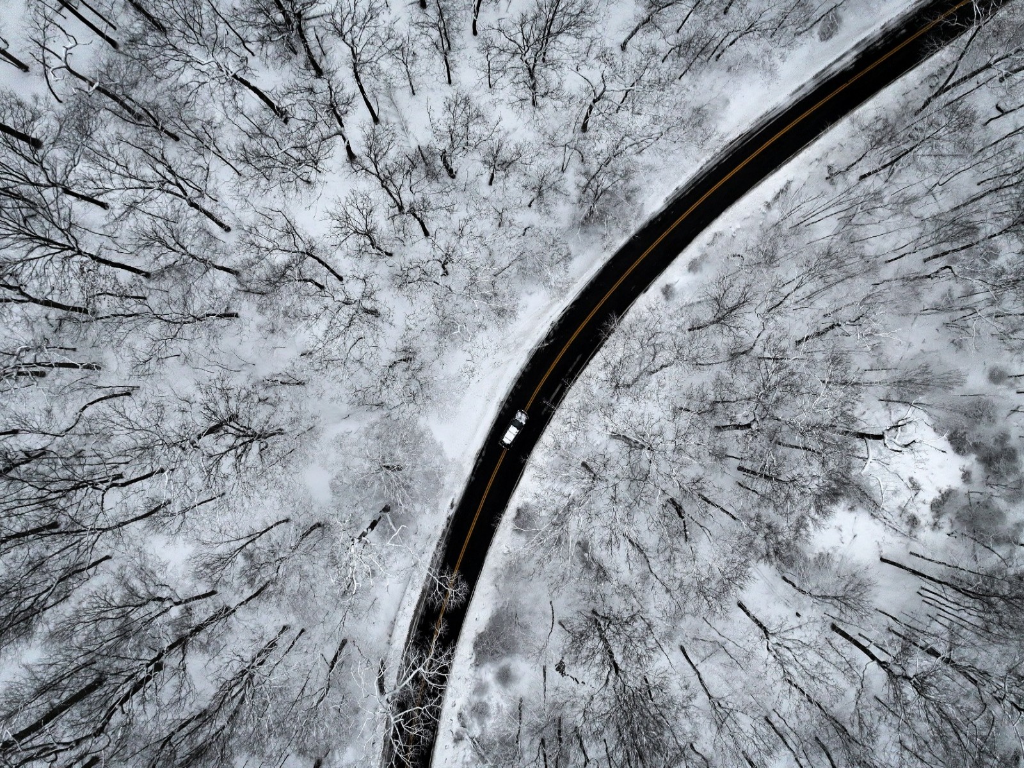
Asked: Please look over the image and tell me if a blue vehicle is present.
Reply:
No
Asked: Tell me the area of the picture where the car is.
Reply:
center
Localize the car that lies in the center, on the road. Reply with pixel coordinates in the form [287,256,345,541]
[498,408,529,449]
